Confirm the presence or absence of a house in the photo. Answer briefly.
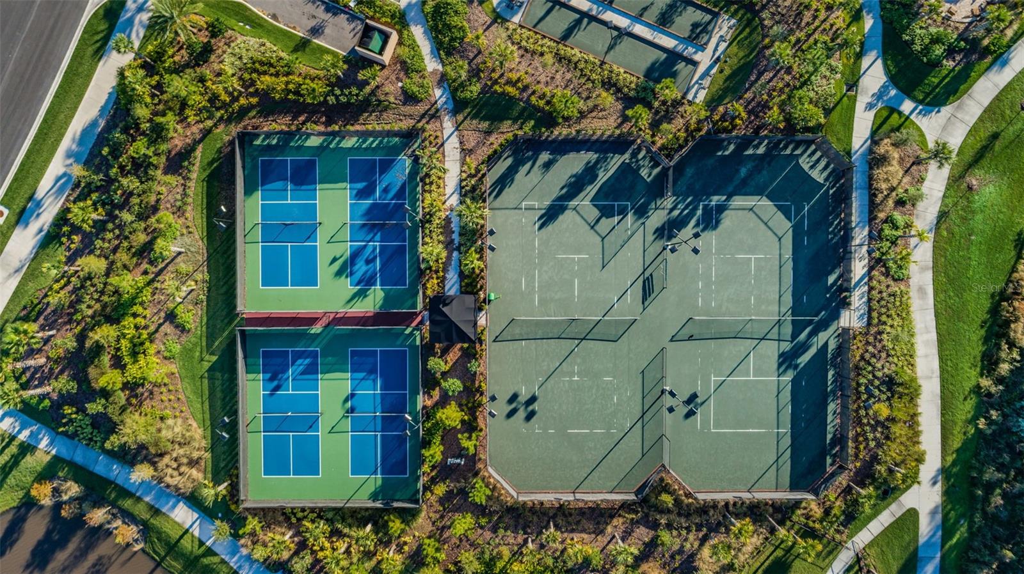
No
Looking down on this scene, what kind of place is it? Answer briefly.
sports ground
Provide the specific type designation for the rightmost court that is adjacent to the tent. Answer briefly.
tennis court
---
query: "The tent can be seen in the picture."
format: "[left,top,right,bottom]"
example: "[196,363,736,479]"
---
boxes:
[430,295,477,342]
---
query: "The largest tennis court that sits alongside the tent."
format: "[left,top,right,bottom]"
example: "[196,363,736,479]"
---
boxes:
[489,141,665,493]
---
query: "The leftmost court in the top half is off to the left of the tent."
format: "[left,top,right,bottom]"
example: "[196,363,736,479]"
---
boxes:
[244,139,334,311]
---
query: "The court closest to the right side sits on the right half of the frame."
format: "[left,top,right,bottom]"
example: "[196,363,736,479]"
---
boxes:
[664,142,840,492]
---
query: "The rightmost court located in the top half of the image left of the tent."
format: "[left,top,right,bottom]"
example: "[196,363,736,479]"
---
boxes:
[333,139,420,311]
